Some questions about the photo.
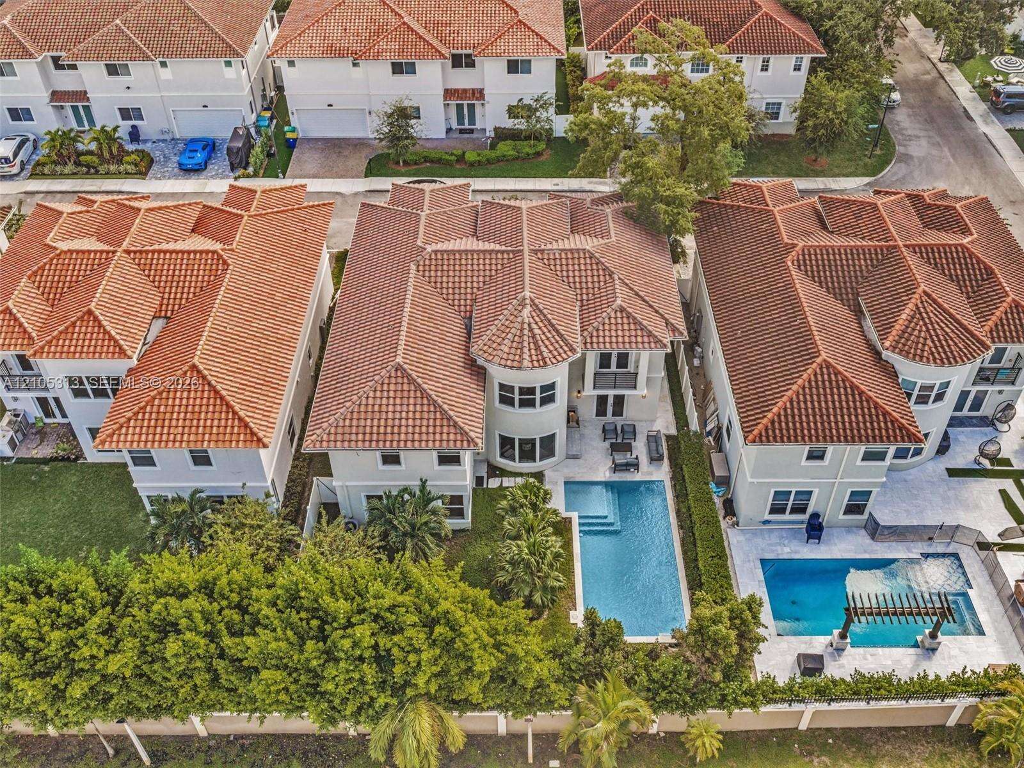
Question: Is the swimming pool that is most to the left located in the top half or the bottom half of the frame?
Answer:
bottom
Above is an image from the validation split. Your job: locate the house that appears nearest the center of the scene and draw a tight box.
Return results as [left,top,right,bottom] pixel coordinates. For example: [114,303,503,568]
[302,179,691,529]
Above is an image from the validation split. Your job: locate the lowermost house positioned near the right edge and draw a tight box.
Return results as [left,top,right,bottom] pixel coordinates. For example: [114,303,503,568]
[681,178,1024,528]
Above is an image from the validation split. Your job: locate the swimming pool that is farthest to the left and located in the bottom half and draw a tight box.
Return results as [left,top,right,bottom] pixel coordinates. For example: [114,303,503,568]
[565,478,688,634]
